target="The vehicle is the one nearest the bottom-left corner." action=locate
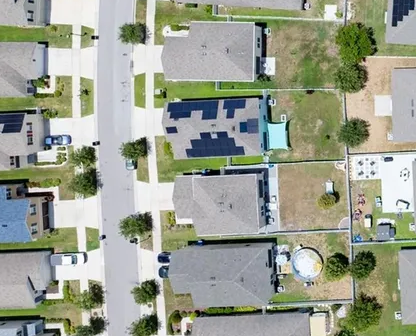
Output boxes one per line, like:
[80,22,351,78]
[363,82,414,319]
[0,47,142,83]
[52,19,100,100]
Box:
[51,253,89,267]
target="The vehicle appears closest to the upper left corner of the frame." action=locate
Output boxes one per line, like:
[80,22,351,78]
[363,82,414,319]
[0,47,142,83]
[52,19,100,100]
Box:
[47,134,73,146]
